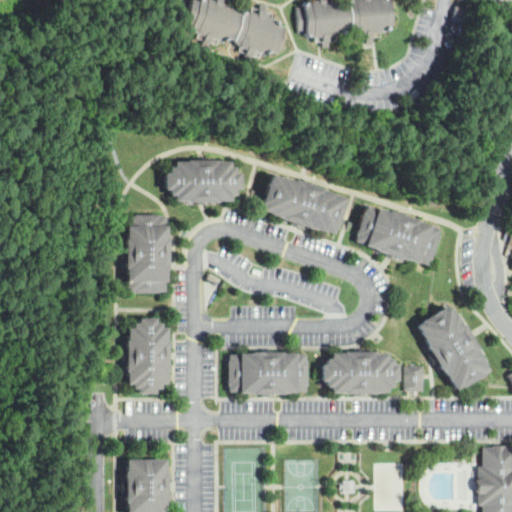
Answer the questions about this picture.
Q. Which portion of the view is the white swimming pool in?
bottom right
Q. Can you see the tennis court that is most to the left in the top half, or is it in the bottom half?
bottom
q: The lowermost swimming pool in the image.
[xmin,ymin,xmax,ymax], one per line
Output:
[418,456,478,512]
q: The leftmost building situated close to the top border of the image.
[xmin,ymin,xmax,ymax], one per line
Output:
[191,0,286,59]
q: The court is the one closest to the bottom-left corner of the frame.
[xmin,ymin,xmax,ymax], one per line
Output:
[224,448,262,512]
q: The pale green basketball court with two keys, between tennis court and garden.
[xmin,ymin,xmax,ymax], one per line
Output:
[284,459,319,512]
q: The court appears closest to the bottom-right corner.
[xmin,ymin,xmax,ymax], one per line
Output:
[373,463,404,512]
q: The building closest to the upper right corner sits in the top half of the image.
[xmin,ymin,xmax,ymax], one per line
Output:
[294,0,396,49]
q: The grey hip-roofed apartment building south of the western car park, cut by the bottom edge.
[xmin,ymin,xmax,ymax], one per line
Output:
[128,459,172,512]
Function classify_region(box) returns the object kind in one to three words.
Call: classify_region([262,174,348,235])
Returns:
building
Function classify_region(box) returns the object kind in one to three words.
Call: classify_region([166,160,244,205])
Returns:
building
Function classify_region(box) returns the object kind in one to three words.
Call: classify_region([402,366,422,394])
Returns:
house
